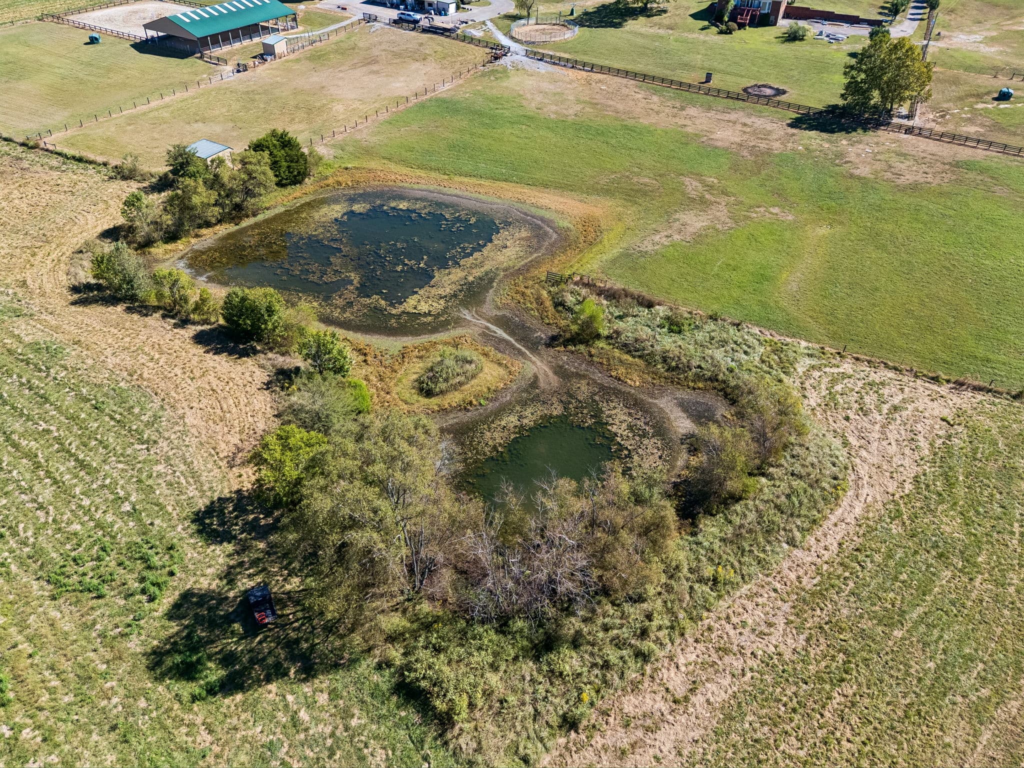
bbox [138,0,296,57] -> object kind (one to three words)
barn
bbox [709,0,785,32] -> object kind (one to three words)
house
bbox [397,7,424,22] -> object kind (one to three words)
vehicle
